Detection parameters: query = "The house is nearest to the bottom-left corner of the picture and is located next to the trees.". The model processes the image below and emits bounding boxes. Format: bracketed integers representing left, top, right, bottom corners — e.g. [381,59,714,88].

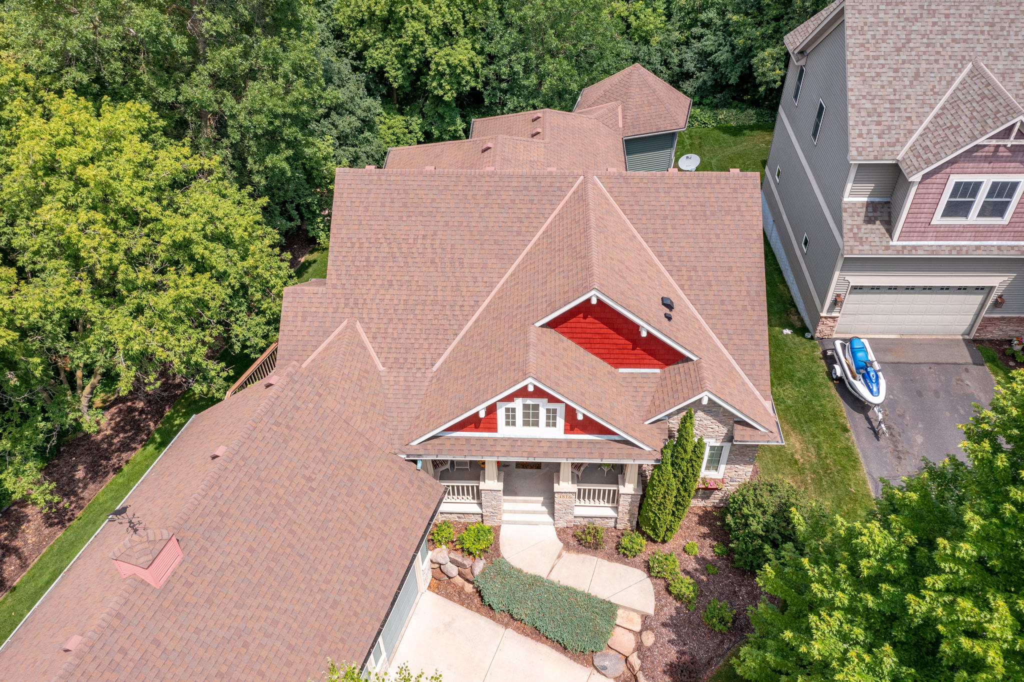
[0,62,786,682]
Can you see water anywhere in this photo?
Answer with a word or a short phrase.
No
